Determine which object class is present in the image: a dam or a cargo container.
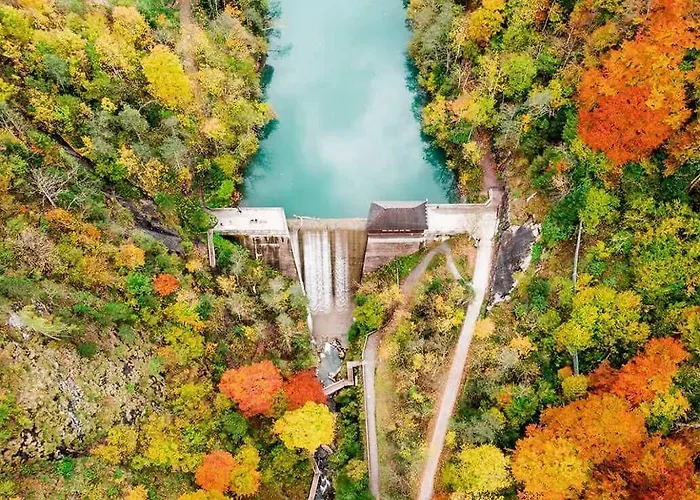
dam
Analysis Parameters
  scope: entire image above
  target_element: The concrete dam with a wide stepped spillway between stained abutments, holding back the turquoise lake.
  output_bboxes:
[208,186,489,350]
